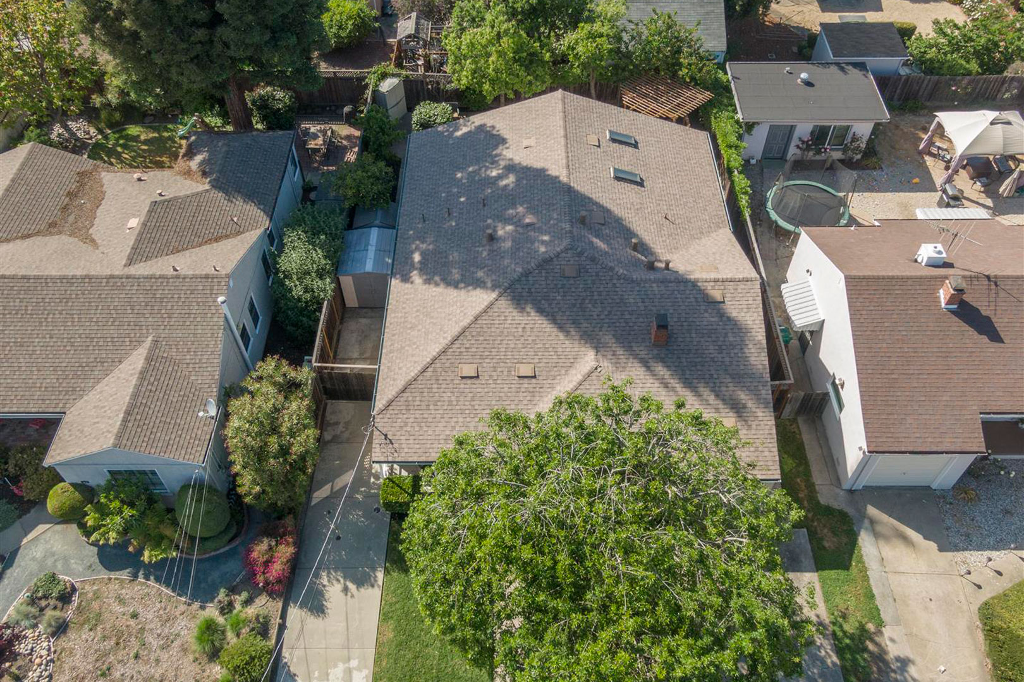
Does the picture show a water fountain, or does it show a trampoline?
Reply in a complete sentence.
Looking from above, you can make out a trampoline.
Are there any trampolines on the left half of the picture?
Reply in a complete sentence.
No, no trampoline is visible on the left half of the picture.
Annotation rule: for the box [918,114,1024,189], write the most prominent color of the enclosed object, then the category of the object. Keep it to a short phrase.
white gazebo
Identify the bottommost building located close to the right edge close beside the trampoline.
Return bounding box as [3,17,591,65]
[784,218,1024,494]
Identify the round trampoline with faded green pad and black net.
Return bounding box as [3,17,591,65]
[764,153,857,232]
